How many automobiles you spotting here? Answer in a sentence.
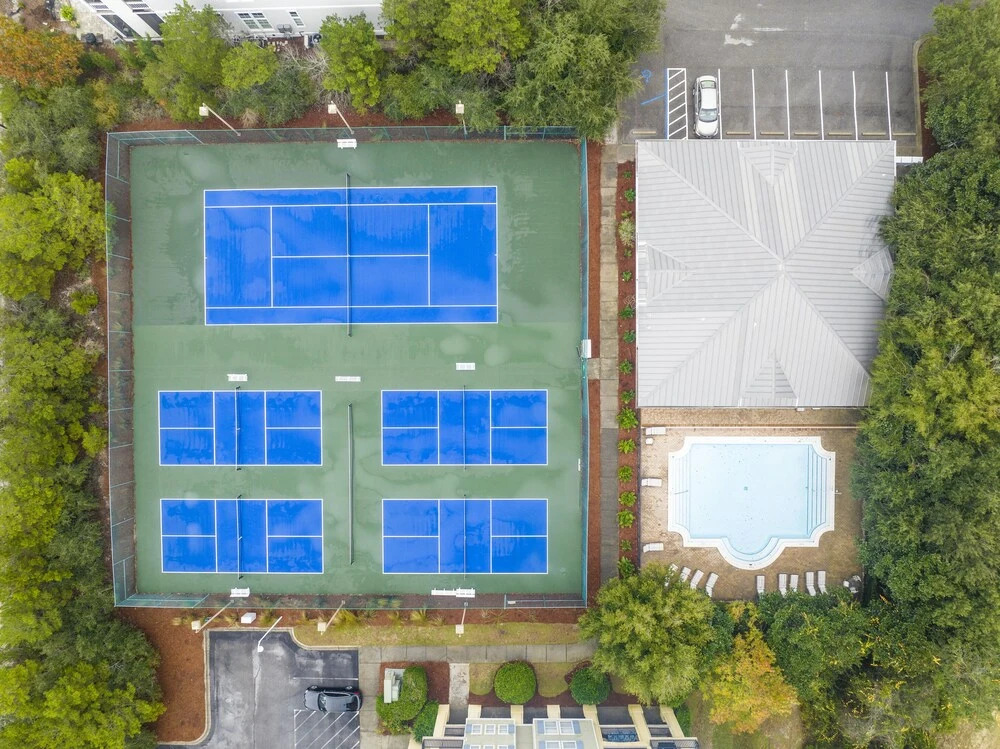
The count of automobiles comes to 2.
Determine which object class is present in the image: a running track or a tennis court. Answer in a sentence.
Visible in the photo is a tennis court.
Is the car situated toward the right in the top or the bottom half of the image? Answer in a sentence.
The car situated toward the right sits in the top half of the picture.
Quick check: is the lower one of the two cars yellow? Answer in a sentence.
No, from above the lower one of the two cars looks gray.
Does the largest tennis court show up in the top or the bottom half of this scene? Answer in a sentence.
The top half of the photo is where the largest tennis court is.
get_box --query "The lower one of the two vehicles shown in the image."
[305,683,363,715]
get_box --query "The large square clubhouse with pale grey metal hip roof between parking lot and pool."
[635,140,899,414]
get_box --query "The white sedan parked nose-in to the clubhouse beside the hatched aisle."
[693,74,723,138]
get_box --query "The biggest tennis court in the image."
[203,186,499,326]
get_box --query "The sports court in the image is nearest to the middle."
[382,389,548,466]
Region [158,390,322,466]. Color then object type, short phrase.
blue sports court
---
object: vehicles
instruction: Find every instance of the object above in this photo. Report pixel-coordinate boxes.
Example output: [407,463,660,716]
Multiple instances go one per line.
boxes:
[305,683,363,715]
[693,74,723,138]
